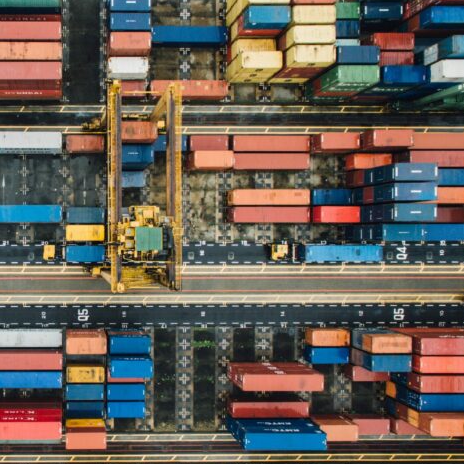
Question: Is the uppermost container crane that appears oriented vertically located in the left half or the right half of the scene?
left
